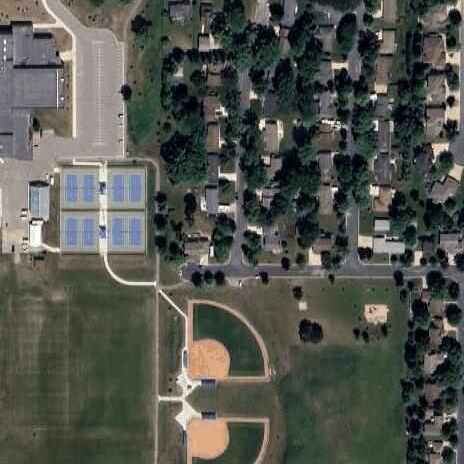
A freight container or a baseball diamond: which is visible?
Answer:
baseball diamond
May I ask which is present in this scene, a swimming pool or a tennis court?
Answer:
tennis court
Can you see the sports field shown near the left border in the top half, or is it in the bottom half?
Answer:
bottom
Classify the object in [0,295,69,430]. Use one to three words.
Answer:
sports field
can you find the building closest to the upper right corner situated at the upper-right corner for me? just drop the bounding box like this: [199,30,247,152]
[420,2,449,27]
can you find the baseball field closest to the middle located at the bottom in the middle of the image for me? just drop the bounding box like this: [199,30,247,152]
[188,300,270,381]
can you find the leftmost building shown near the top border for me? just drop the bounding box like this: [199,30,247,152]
[0,22,63,162]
